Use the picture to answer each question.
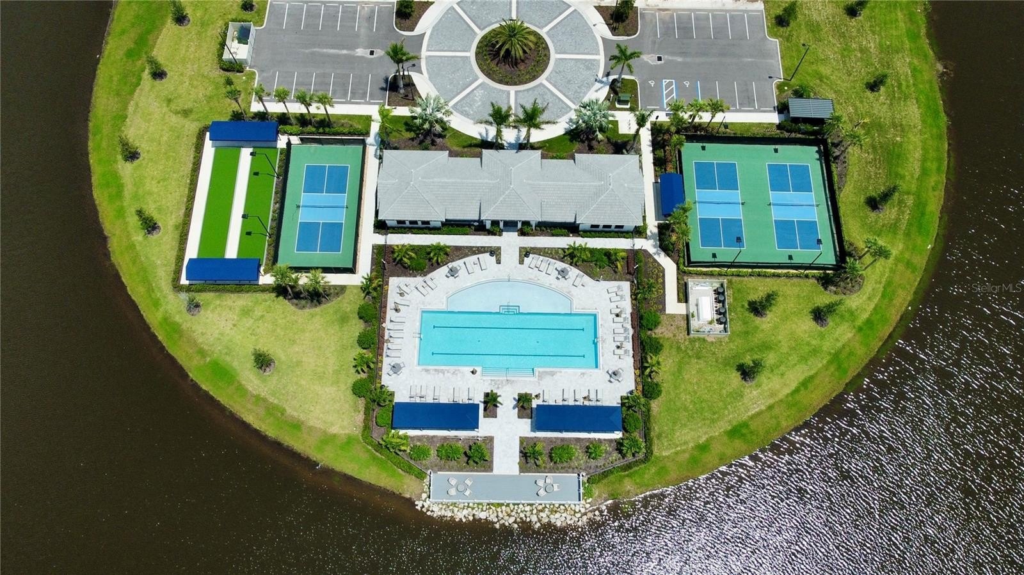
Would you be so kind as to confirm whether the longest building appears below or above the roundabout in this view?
below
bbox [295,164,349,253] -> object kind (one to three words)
sports court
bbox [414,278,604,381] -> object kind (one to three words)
swimming pool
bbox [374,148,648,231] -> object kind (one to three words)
building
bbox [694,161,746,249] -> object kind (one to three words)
sports court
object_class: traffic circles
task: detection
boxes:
[421,0,604,134]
